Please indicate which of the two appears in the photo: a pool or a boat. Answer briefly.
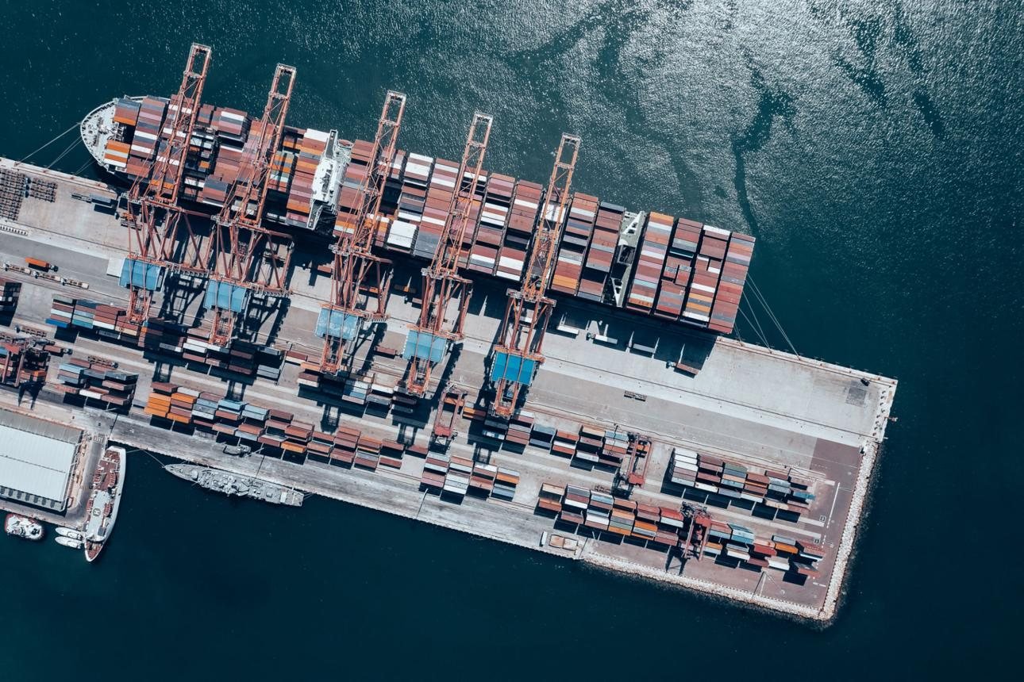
boat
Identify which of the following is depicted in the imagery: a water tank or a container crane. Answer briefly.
container crane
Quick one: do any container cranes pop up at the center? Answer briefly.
Yes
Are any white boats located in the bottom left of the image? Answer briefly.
Yes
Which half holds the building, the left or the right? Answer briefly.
left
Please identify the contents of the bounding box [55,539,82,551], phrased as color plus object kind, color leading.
white boat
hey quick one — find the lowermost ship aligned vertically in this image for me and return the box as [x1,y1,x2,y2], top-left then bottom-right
[80,444,127,563]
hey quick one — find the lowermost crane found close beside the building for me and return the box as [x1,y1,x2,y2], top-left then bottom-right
[0,339,51,395]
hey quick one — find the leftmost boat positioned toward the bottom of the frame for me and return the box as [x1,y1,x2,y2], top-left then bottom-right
[4,511,46,542]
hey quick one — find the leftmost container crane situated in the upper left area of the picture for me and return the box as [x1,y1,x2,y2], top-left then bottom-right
[123,38,223,327]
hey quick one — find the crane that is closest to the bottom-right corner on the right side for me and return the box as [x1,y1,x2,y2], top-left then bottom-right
[673,505,716,567]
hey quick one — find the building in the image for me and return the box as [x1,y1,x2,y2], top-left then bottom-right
[0,405,88,511]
